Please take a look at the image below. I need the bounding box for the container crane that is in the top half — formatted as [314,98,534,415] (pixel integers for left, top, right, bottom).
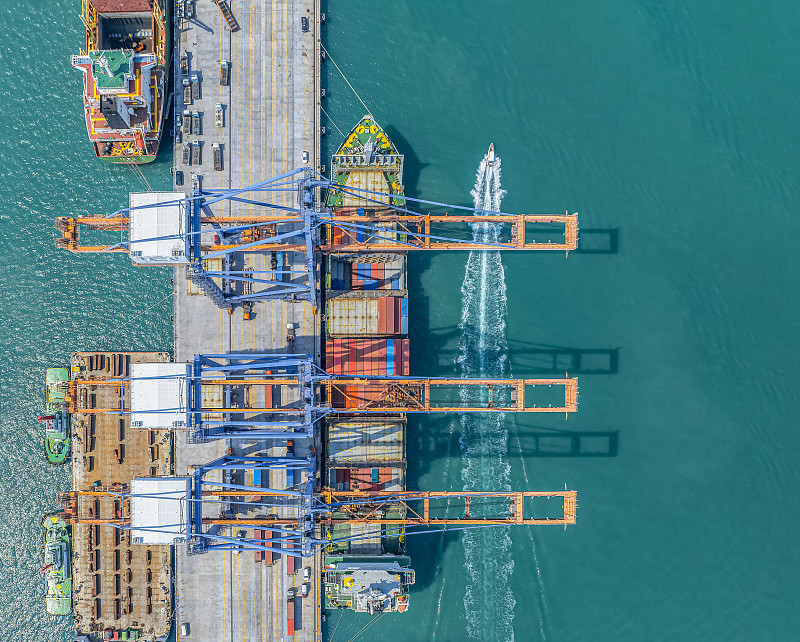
[53,165,584,315]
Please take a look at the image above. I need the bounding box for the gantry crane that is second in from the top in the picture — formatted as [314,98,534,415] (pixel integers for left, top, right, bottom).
[53,351,584,447]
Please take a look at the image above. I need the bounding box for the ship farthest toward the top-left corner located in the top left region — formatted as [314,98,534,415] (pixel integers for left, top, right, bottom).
[72,0,173,171]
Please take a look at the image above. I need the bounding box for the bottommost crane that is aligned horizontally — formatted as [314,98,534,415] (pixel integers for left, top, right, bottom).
[53,446,584,562]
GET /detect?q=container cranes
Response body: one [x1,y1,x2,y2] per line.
[53,351,584,447]
[53,446,584,562]
[53,165,584,315]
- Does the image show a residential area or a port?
port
